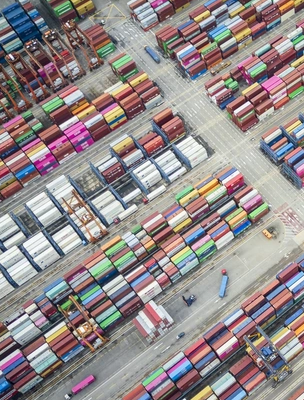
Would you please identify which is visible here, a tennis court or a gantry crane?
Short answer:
gantry crane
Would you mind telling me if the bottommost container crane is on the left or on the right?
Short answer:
right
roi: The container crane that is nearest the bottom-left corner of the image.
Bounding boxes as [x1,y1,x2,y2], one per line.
[55,294,110,353]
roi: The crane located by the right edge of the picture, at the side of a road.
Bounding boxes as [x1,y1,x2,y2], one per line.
[239,325,292,387]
